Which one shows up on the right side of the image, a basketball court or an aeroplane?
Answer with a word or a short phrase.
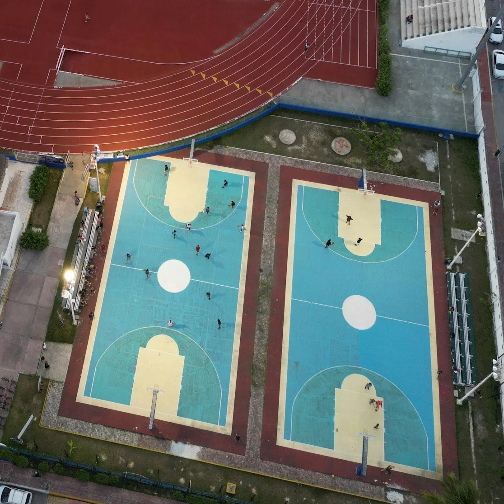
basketball court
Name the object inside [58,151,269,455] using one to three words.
basketball court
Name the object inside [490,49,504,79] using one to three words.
car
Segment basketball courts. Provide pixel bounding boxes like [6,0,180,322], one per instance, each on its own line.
[58,151,269,455]
[259,165,458,494]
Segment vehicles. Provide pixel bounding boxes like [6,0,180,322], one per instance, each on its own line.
[486,17,504,45]
[490,49,504,79]
[0,483,35,504]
